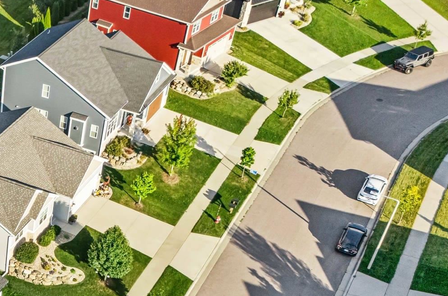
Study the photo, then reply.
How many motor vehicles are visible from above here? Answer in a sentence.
The picture shows 3 motor vehicles.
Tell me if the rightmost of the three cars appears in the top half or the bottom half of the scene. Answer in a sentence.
The rightmost of the three cars is in the top half of the image.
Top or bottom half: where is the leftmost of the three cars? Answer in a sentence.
The bottom half of the photo is where the leftmost of the three cars is.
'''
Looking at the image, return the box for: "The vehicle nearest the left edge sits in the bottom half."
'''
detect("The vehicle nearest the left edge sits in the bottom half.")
[334,223,370,260]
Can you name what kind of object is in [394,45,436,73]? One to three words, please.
car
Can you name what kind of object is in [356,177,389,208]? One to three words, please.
car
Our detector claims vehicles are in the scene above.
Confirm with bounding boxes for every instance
[356,177,389,208]
[394,45,436,73]
[334,223,370,260]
